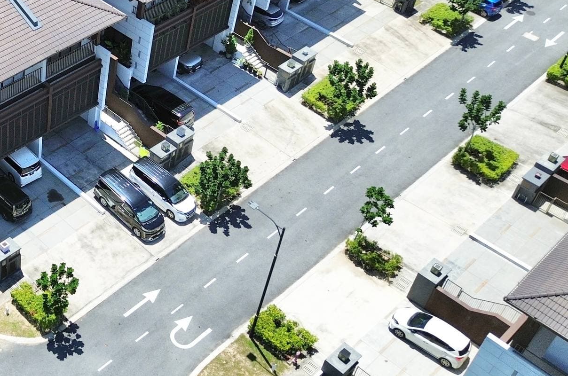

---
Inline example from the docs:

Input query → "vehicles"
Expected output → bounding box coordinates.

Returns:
[93,162,174,240]
[125,148,206,221]
[179,53,193,63]
[469,0,507,20]
[0,176,53,239]
[385,303,481,374]
[136,83,203,132]
[259,1,296,33]
[0,148,67,203]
